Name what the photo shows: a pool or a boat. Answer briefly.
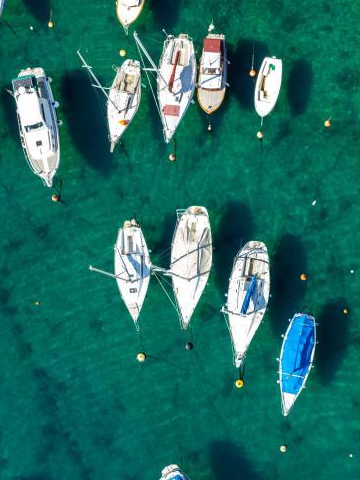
boat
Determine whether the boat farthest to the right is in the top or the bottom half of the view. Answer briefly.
bottom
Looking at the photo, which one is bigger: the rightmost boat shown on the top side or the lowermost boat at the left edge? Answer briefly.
the lowermost boat at the left edge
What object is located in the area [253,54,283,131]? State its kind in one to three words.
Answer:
boat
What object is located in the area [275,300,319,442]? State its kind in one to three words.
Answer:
boat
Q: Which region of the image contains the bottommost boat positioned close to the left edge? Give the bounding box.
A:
[3,68,69,194]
